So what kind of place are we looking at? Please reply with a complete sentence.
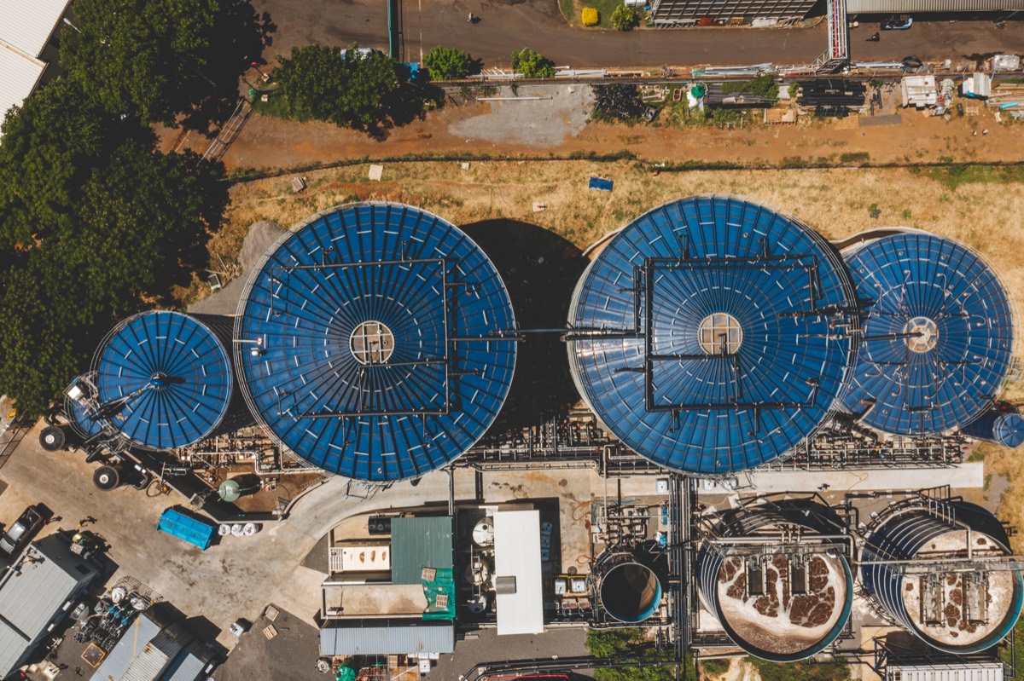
This looks like an industrial area.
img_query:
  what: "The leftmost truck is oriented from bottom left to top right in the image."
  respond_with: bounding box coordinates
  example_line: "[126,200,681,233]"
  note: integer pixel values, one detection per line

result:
[0,504,52,558]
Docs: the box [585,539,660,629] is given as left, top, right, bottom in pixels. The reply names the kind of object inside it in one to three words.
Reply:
storage tank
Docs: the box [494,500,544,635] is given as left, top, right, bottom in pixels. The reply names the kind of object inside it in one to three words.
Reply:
shed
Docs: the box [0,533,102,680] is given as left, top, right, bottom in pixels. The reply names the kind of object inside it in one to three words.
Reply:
building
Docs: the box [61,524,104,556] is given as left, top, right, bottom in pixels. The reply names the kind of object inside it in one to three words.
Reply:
work vehicle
